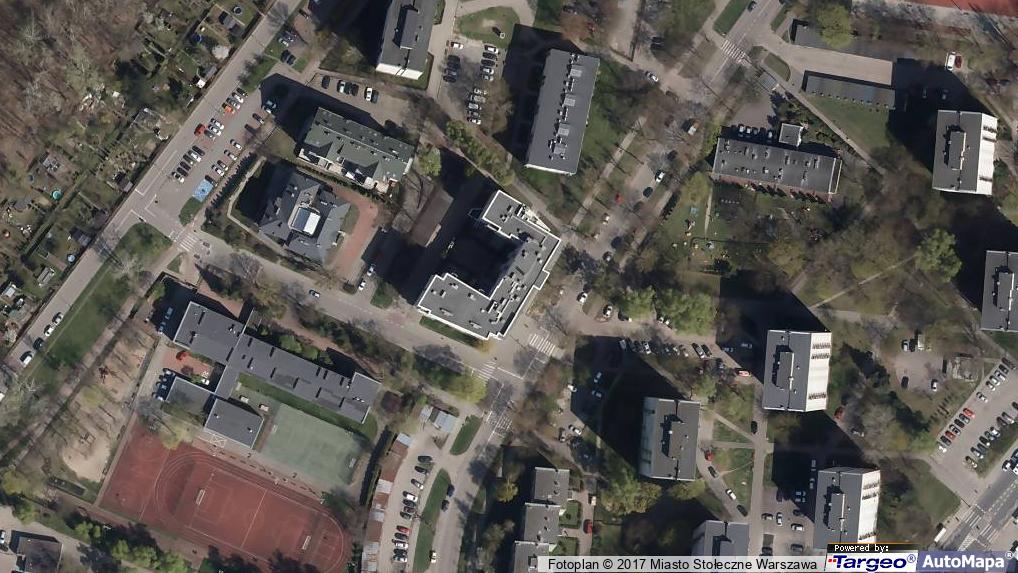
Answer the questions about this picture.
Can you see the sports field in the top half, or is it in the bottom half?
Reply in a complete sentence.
Seen from above, the sports field lies in the bottom half of the view.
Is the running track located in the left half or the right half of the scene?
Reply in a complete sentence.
The running track appears in the left half of the scene.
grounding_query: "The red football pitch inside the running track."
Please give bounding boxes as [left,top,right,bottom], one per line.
[160,464,338,573]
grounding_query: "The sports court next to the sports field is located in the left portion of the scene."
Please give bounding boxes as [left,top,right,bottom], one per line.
[259,404,367,489]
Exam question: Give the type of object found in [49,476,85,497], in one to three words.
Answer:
shed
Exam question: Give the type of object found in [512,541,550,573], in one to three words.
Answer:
house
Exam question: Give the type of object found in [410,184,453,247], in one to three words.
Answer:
building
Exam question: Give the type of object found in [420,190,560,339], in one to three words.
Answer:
building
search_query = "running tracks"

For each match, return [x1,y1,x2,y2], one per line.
[99,415,346,573]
